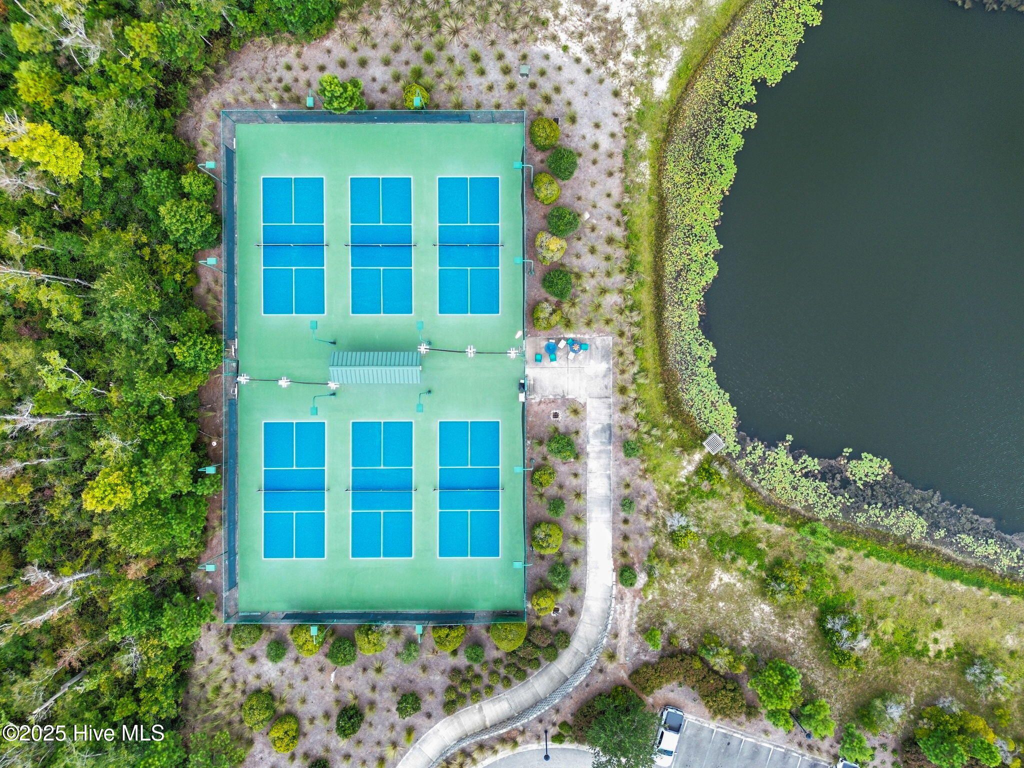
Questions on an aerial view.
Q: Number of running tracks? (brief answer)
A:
0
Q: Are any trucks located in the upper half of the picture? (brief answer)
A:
No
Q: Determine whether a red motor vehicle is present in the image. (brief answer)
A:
No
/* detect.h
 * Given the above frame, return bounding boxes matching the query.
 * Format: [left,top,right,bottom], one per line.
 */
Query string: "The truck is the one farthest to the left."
[648,698,687,762]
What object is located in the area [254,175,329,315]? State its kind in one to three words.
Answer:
sports court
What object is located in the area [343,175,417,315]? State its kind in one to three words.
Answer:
sports court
